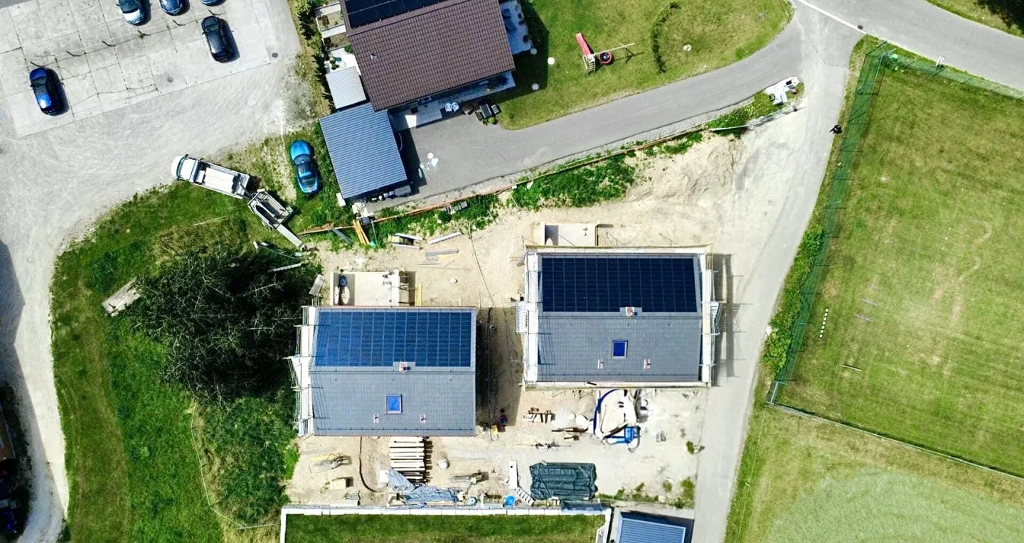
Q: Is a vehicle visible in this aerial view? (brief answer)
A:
Yes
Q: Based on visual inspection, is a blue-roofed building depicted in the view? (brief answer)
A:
Yes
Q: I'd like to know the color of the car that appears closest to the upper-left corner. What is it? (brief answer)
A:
blue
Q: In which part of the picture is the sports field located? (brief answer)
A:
right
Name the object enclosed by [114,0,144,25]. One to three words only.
car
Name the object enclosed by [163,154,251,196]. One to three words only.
truck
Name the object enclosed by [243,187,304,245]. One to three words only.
trailer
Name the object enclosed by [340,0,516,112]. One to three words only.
house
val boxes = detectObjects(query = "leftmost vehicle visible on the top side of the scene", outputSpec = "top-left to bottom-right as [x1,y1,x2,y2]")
[24,64,60,113]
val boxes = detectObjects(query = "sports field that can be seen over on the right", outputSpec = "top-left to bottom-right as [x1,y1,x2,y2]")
[768,66,1024,477]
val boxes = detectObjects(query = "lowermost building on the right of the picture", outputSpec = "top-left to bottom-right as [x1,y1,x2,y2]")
[615,511,687,543]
